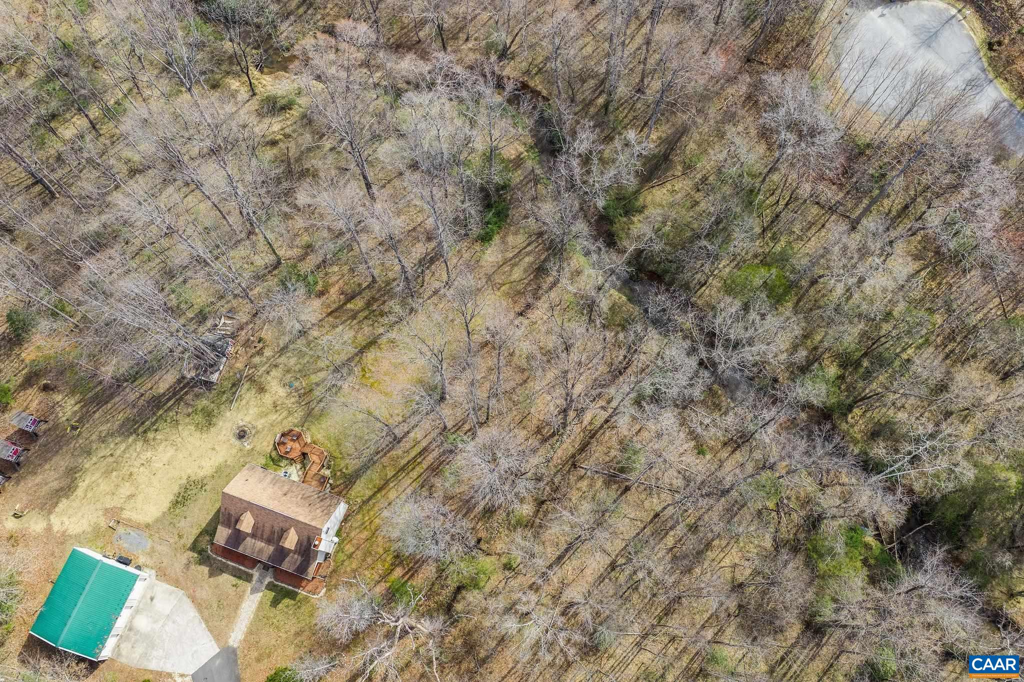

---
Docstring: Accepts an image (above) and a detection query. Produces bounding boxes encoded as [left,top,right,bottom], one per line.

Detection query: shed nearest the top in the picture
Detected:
[1,407,43,438]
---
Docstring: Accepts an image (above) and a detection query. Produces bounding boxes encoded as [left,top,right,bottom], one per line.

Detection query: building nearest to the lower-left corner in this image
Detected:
[26,547,148,663]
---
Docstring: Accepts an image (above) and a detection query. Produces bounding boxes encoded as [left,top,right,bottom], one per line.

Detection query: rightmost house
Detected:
[213,463,348,584]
